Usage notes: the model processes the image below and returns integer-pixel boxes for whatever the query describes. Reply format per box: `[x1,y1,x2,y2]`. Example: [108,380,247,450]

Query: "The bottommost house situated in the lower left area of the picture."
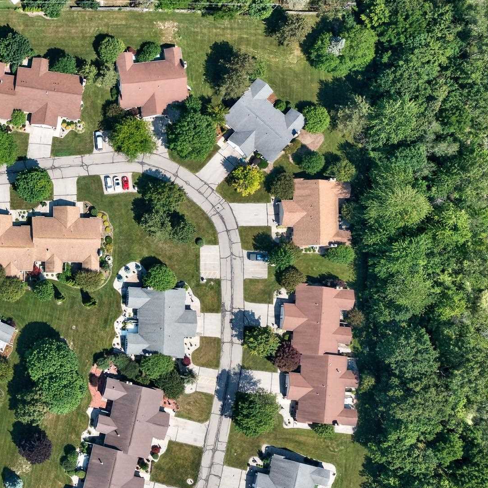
[83,378,171,488]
